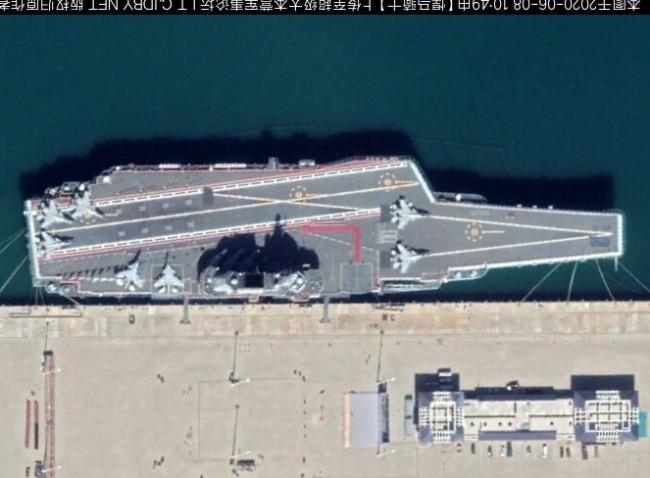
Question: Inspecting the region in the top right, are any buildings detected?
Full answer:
No, there's no building to be seen in the top right.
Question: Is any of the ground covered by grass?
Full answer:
No, there's no grass in this view.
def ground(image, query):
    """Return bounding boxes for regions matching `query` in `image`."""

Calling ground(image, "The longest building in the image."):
[412,373,646,443]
